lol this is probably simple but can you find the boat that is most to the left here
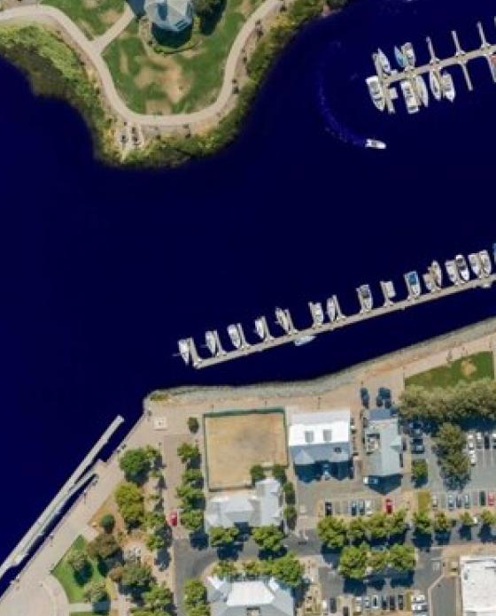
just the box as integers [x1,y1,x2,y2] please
[170,337,189,364]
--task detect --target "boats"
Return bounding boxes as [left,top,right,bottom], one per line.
[311,300,324,328]
[294,335,315,344]
[394,46,408,68]
[376,47,392,76]
[399,80,415,112]
[199,330,217,357]
[443,258,457,282]
[454,253,469,281]
[366,78,384,109]
[466,252,479,277]
[479,250,491,277]
[430,69,440,101]
[364,139,386,148]
[406,269,421,297]
[384,280,394,296]
[405,43,415,68]
[358,282,371,311]
[415,76,428,106]
[170,337,189,364]
[433,260,442,287]
[252,318,265,339]
[390,88,398,99]
[325,296,335,320]
[224,323,240,348]
[274,306,288,332]
[422,272,433,289]
[439,69,454,102]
